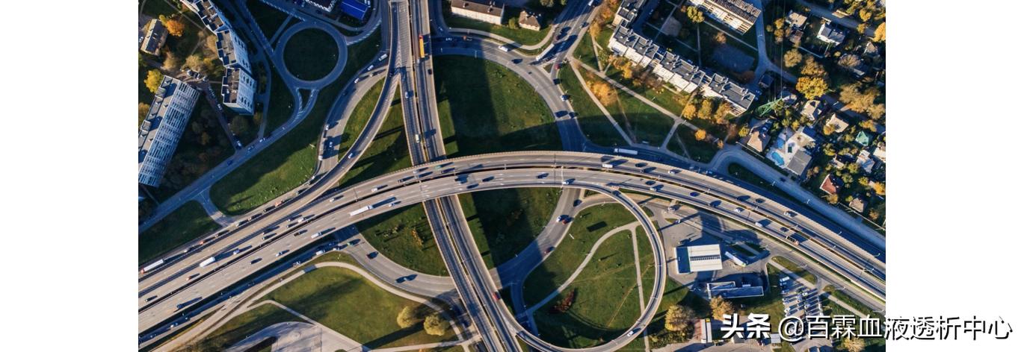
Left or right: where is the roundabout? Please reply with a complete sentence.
The roundabout appears in the left half of the scene.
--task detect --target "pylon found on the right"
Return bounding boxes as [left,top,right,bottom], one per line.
[753,101,786,117]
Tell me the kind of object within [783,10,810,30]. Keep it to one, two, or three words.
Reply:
house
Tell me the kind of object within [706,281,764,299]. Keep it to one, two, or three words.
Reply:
building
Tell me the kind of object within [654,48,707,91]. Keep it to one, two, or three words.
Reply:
building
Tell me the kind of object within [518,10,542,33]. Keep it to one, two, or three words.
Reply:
house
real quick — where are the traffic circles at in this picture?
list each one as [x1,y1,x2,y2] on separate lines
[274,18,348,91]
